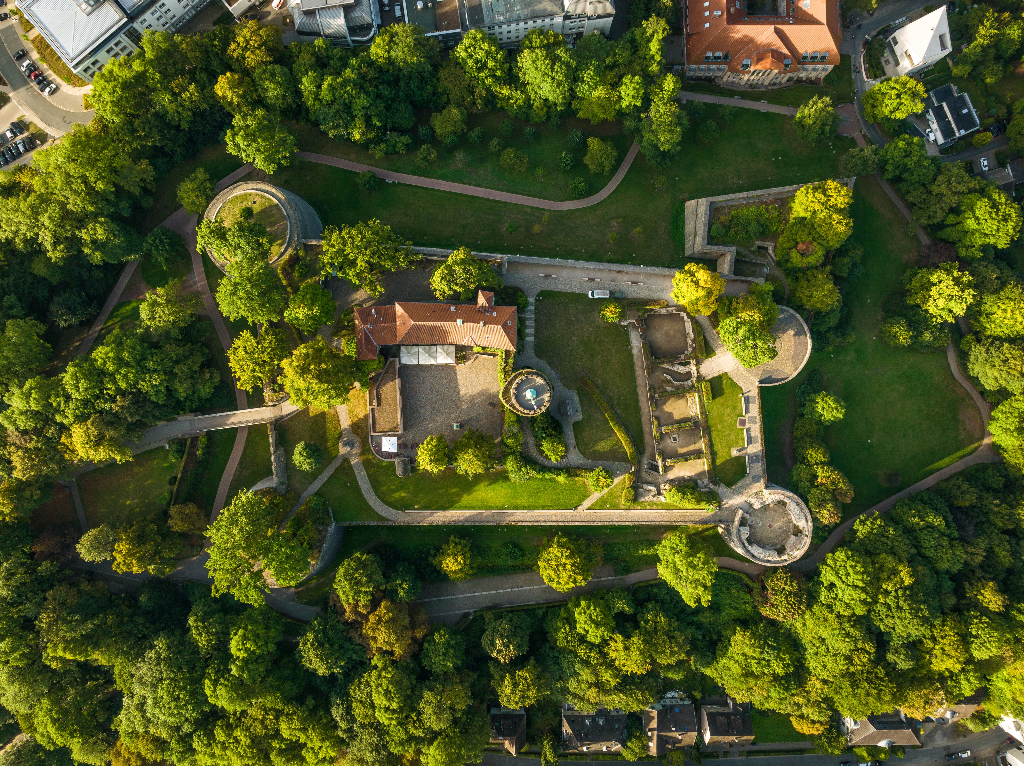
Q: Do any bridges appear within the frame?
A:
Yes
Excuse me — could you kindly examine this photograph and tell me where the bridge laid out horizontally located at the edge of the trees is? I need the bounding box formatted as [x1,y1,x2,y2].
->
[175,402,283,439]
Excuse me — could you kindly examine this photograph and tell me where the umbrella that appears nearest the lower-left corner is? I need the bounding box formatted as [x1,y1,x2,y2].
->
[382,437,397,452]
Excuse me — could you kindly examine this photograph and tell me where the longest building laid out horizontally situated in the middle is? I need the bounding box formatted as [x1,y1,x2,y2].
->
[354,291,517,361]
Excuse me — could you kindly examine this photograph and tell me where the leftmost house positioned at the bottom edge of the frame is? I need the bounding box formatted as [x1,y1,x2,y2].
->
[490,705,526,755]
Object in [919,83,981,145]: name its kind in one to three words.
house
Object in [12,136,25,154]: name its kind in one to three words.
vehicle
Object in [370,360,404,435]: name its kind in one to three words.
building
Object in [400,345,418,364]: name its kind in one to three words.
umbrella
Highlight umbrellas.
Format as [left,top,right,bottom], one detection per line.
[400,345,418,364]
[437,345,455,364]
[419,345,437,364]
[382,437,397,452]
